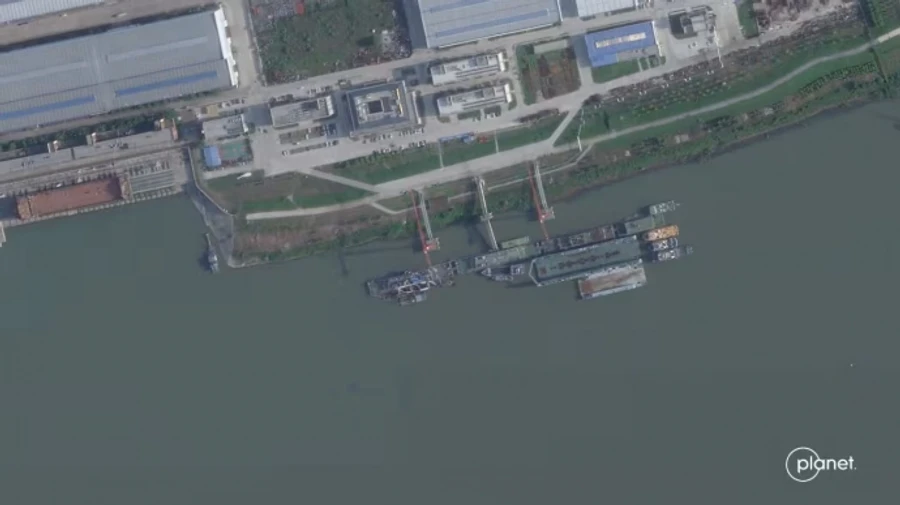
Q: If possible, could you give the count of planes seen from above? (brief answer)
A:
0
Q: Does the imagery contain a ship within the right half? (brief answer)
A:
Yes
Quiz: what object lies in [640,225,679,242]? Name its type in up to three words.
boat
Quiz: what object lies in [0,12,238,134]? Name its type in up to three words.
warehouse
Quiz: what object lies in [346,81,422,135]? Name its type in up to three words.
building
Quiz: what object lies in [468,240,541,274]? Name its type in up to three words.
ship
